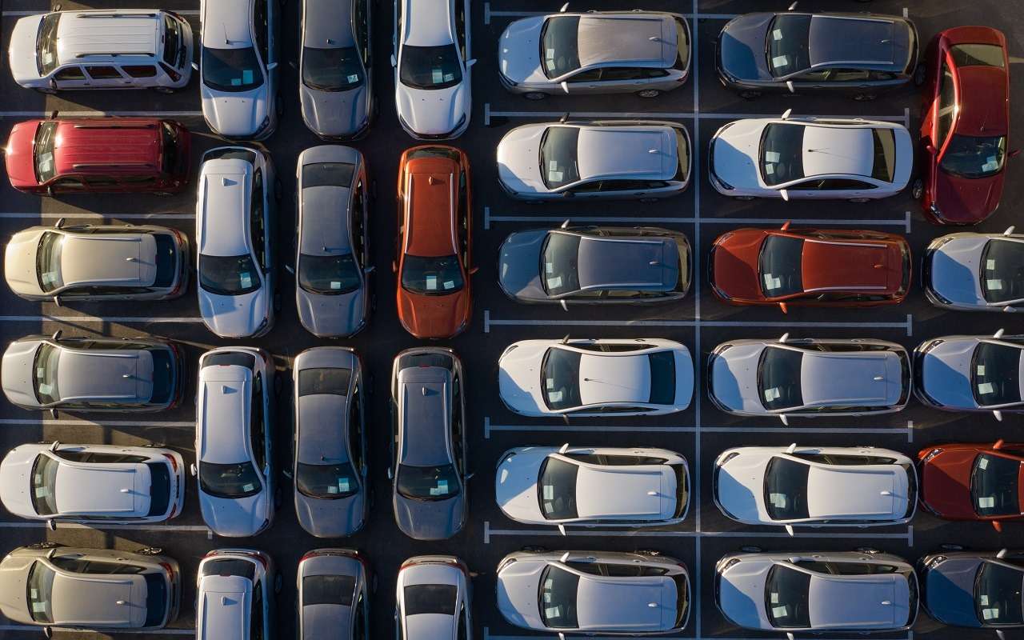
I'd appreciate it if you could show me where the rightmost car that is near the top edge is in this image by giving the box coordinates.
[907,25,1020,226]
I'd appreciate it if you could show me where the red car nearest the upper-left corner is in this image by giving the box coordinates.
[2,106,196,200]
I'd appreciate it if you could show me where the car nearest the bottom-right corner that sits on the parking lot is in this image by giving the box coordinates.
[915,541,1024,640]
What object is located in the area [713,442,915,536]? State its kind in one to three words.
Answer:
car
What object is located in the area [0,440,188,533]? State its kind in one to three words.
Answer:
car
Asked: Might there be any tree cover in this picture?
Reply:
No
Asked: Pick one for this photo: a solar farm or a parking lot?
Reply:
parking lot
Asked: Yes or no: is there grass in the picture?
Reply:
No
